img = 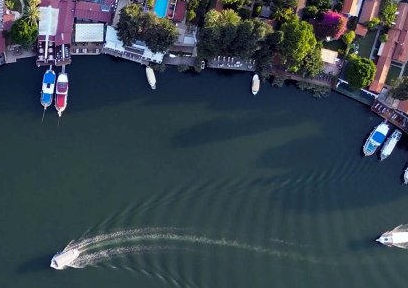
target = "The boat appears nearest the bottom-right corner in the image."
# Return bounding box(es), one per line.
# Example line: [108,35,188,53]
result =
[374,231,408,244]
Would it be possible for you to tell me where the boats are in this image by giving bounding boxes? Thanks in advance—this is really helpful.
[145,66,156,90]
[374,231,408,244]
[252,74,260,95]
[363,121,388,157]
[49,247,83,267]
[43,69,55,111]
[379,130,400,162]
[56,72,68,116]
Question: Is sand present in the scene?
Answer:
No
